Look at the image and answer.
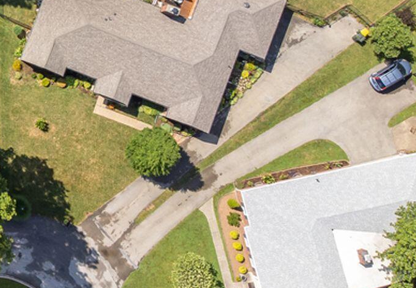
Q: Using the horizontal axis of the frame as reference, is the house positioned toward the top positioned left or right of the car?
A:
left of it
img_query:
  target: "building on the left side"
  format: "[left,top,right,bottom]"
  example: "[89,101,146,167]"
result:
[20,0,288,134]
